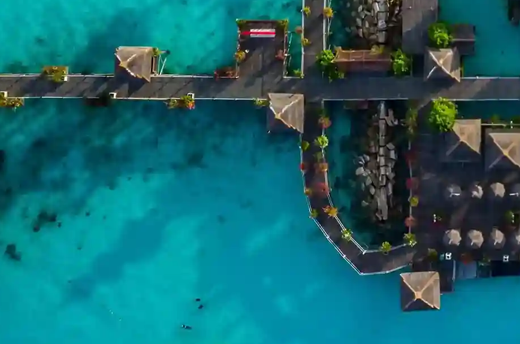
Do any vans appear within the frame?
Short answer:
No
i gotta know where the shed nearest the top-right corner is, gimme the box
[448,24,475,55]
